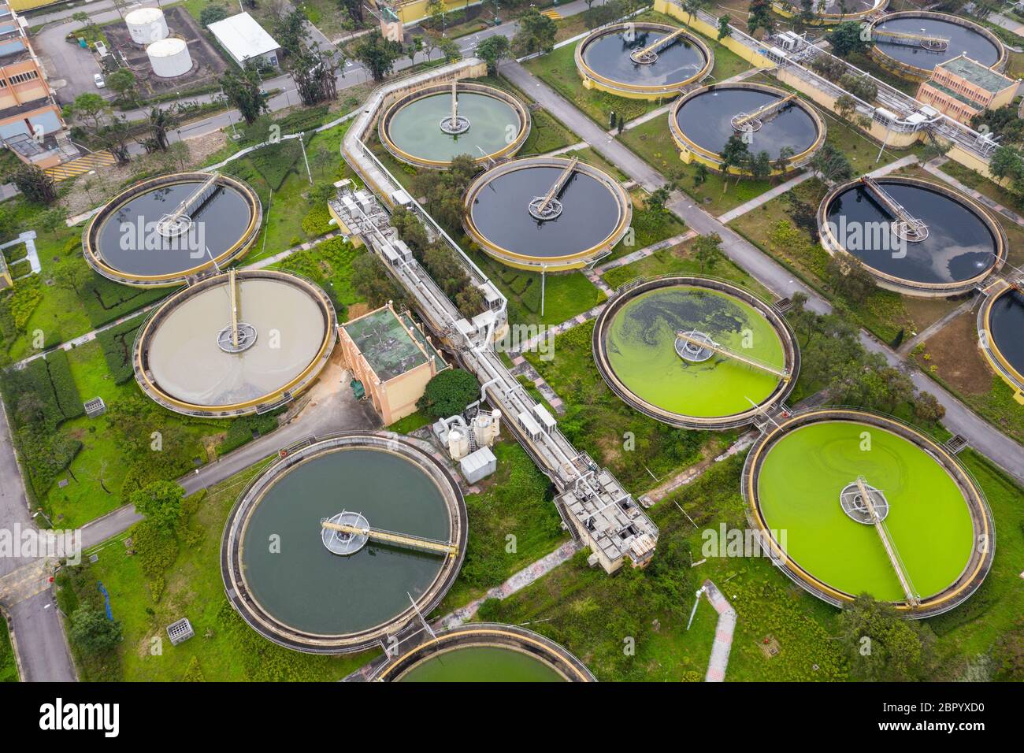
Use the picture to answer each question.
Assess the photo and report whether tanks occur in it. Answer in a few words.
Yes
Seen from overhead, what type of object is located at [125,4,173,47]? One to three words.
storage tank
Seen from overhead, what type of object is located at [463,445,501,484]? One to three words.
shed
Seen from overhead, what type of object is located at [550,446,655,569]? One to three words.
building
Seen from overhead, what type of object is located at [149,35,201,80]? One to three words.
storage tank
